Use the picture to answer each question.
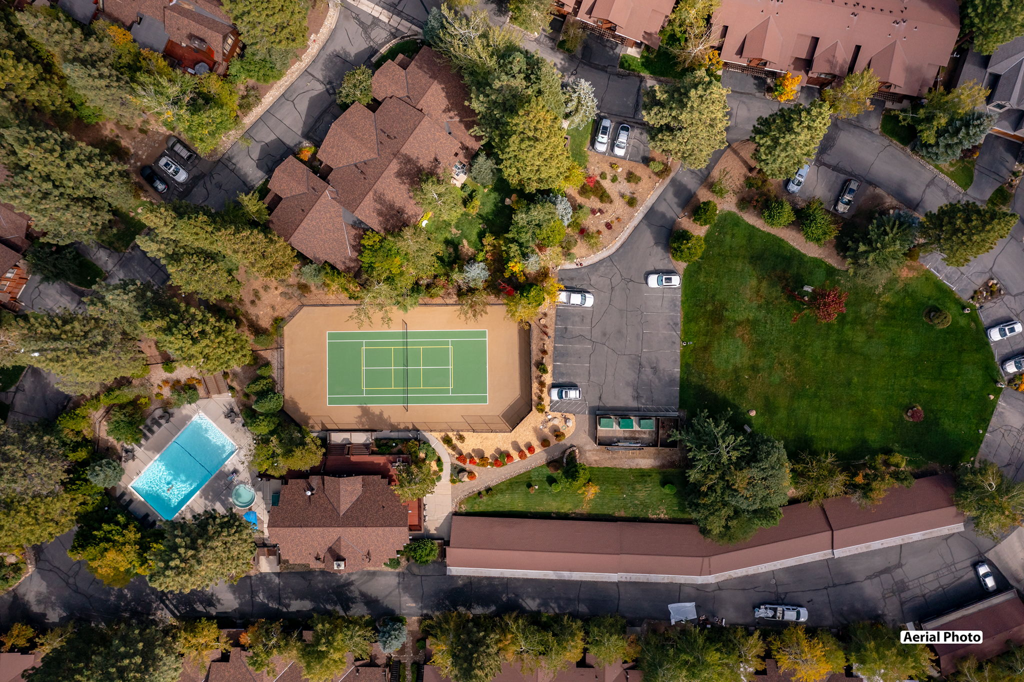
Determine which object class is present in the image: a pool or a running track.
pool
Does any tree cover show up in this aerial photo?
Yes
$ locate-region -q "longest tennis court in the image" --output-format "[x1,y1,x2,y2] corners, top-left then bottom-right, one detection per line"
[284,306,532,431]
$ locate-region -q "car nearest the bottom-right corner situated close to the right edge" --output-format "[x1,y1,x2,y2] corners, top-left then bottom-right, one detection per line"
[973,561,997,593]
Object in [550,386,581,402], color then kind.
white car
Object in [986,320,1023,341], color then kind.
white car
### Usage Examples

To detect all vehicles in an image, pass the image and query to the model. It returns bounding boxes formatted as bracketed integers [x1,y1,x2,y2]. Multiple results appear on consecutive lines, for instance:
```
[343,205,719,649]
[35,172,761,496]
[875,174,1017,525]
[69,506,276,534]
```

[764,603,808,623]
[986,320,1023,341]
[835,179,861,214]
[157,156,190,184]
[165,135,198,165]
[1000,354,1024,373]
[973,561,997,593]
[613,123,631,157]
[647,272,681,289]
[594,118,612,153]
[556,291,594,308]
[786,166,811,195]
[550,386,581,402]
